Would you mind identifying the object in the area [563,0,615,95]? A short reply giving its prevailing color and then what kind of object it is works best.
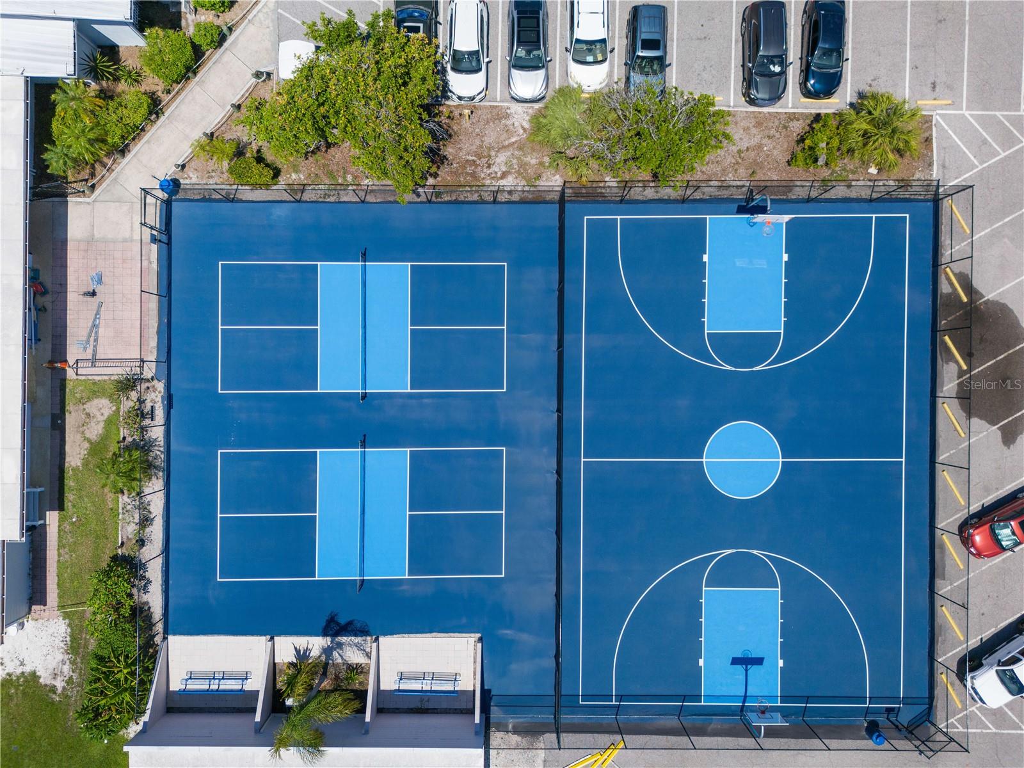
white car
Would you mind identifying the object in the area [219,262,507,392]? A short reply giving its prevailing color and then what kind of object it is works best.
blue sports court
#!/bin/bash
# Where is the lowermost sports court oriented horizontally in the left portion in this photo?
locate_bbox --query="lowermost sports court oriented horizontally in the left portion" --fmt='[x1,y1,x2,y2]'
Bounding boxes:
[217,448,505,581]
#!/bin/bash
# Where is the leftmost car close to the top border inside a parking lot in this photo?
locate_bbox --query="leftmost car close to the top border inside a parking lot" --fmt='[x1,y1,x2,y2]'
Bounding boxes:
[442,0,492,103]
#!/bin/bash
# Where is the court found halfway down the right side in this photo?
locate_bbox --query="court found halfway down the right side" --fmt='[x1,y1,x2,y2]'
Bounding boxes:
[559,199,941,722]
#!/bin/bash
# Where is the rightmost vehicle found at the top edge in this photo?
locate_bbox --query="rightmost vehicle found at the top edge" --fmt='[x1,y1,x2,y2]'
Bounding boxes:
[801,0,854,101]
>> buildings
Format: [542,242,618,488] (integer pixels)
[0,79,40,541]
[120,712,485,768]
[0,0,169,45]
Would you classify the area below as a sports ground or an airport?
sports ground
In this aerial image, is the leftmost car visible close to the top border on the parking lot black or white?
white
